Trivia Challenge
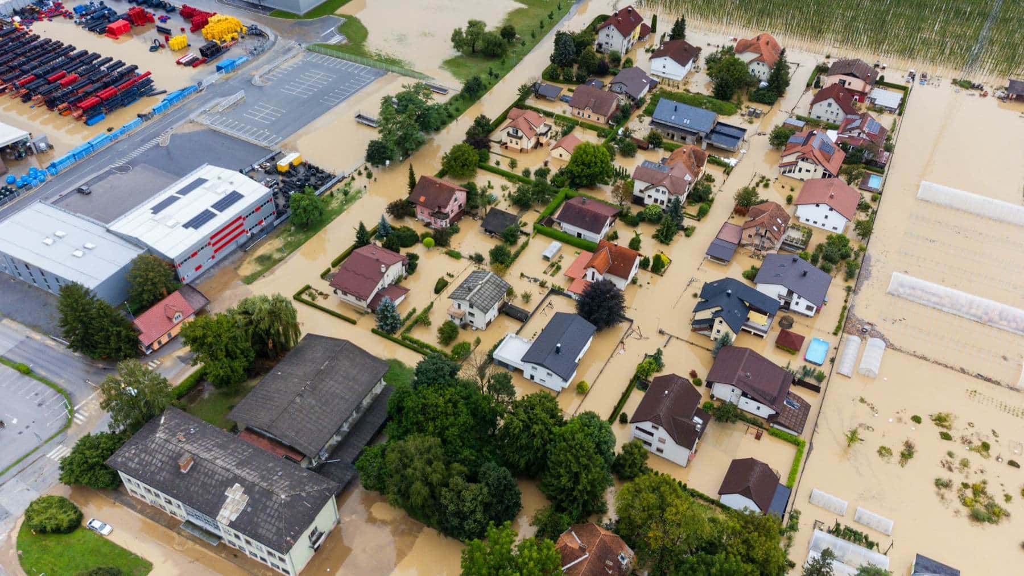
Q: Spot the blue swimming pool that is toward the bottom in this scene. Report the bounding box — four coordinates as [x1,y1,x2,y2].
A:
[804,337,829,368]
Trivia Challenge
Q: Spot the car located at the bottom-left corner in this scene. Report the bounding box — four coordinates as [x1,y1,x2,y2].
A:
[83,516,117,539]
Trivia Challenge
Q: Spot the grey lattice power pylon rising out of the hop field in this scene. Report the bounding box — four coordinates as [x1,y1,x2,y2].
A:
[945,0,1010,86]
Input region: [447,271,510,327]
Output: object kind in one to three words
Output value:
house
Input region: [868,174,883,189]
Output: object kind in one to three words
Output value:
swimming pool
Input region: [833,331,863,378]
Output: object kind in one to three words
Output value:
greenhouse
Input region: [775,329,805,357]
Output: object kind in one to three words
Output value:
gazebo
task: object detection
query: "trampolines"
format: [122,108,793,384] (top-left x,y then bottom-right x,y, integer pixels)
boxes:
[777,312,798,329]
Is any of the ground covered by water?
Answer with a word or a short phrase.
Yes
